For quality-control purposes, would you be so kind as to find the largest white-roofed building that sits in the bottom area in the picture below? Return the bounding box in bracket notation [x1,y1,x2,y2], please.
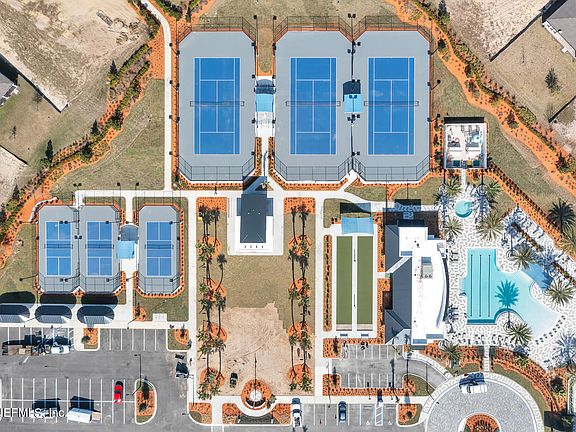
[384,220,453,354]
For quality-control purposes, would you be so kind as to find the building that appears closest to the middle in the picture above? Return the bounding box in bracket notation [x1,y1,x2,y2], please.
[236,195,273,253]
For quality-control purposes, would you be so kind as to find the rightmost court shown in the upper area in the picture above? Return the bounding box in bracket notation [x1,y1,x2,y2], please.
[353,31,430,180]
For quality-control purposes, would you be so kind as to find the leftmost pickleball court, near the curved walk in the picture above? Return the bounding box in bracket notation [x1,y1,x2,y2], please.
[39,206,78,291]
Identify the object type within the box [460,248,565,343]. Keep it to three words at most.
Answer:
swimming pool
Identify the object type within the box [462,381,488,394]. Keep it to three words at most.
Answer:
vehicle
